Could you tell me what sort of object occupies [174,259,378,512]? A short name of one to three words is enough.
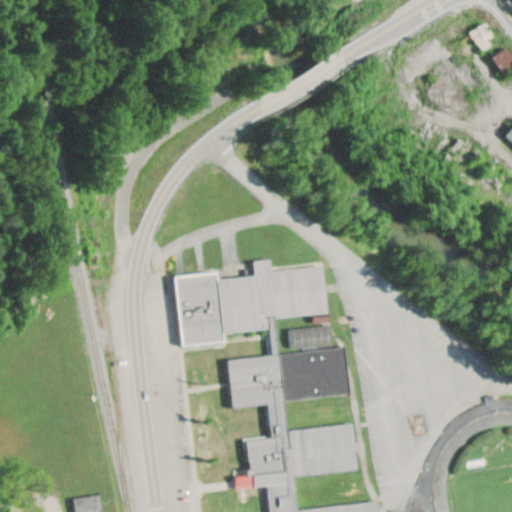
building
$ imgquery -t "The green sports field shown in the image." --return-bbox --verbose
[447,425,512,512]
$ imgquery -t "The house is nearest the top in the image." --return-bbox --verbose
[470,21,496,52]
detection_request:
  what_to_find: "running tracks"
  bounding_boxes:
[406,398,512,512]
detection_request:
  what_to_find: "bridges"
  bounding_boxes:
[276,50,349,104]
